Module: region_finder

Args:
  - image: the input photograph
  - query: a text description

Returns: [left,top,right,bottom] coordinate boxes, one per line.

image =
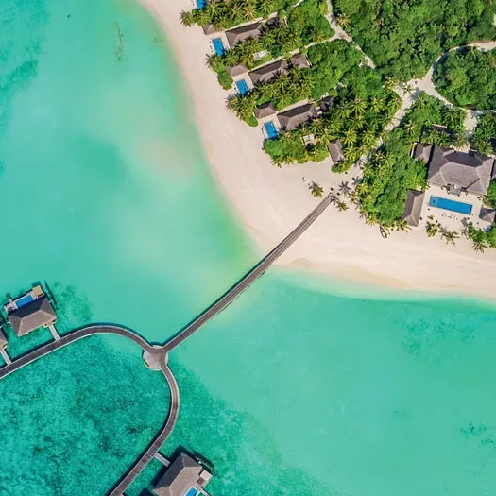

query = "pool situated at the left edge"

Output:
[14,296,35,311]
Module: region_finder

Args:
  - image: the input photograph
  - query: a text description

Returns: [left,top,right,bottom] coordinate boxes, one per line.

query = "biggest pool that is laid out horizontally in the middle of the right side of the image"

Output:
[427,195,473,216]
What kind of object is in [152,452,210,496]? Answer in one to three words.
house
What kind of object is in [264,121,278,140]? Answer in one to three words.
swimming pool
